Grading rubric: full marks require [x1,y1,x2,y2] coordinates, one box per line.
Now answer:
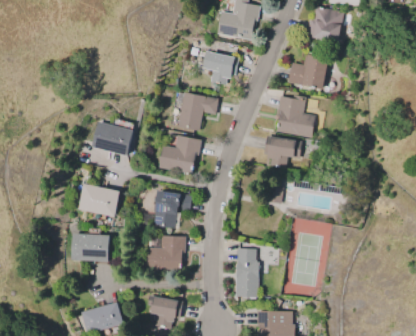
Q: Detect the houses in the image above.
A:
[202,50,235,84]
[92,120,134,155]
[266,136,304,167]
[258,310,296,336]
[310,8,345,39]
[78,184,120,218]
[148,235,187,270]
[149,296,178,330]
[71,233,110,263]
[156,192,181,228]
[218,0,262,40]
[177,92,220,132]
[277,96,316,138]
[288,54,328,90]
[236,248,260,298]
[82,303,121,330]
[159,135,202,174]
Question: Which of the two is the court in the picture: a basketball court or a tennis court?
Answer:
tennis court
